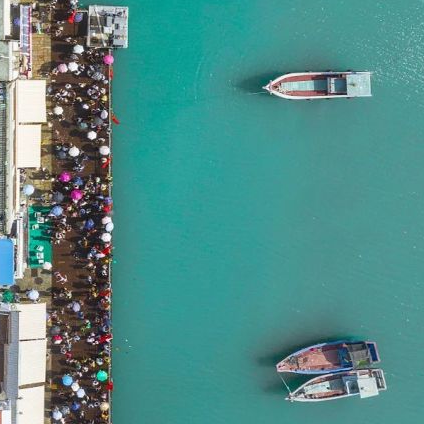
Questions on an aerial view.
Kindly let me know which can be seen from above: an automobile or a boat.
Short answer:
boat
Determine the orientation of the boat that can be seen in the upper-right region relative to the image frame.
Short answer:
from side to side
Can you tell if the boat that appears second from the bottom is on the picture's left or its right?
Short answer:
right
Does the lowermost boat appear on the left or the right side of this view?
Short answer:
right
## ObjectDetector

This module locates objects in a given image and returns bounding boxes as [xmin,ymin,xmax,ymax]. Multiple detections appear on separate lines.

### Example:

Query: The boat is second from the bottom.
[274,333,379,373]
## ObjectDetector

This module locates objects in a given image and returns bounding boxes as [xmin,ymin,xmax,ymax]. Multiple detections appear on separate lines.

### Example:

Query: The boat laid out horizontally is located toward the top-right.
[261,67,372,99]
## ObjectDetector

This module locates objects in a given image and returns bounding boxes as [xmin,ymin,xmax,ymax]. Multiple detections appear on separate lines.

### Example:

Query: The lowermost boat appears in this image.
[282,363,386,403]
